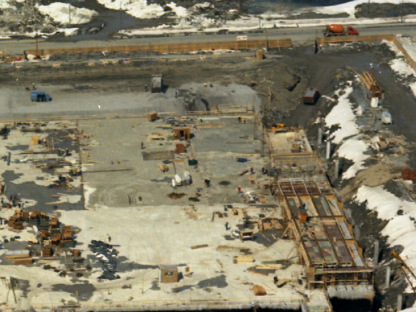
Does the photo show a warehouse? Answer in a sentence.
No, the picture doesn't show any warehouse.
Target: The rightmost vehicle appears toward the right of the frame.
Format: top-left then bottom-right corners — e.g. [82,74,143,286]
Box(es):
[379,110,396,126]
